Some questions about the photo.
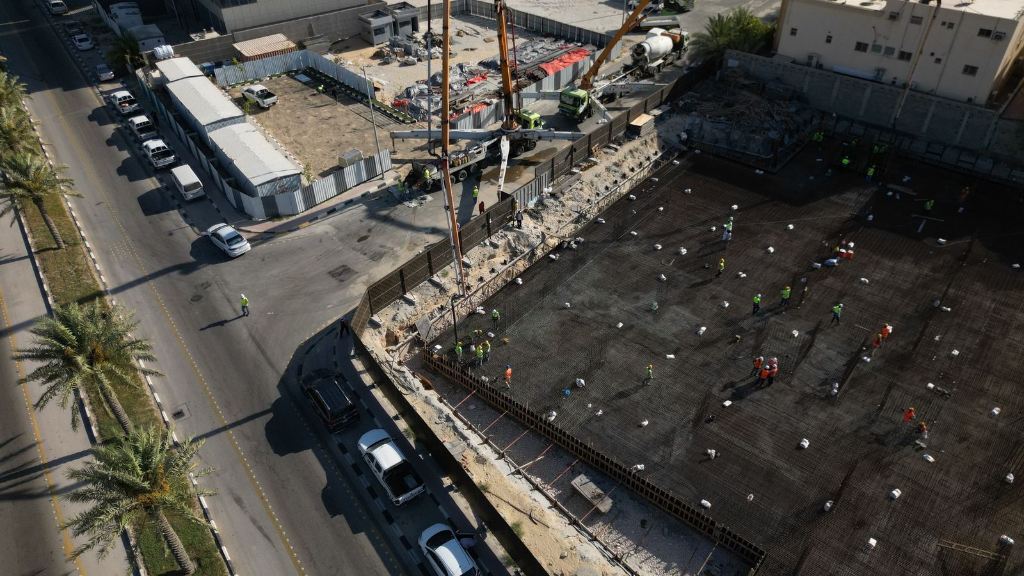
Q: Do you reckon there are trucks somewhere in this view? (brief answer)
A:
Yes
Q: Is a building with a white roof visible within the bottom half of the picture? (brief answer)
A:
No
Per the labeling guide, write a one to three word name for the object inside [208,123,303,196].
building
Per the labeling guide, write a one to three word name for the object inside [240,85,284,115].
truck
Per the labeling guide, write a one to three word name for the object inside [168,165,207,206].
vehicle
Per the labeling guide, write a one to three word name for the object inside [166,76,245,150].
building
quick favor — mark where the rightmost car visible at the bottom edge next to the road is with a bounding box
[419,518,490,576]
